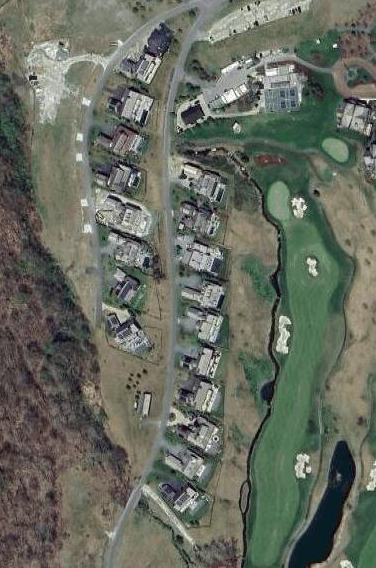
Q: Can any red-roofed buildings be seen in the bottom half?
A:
No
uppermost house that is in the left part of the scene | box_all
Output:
[120,54,162,83]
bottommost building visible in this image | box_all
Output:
[160,483,205,512]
